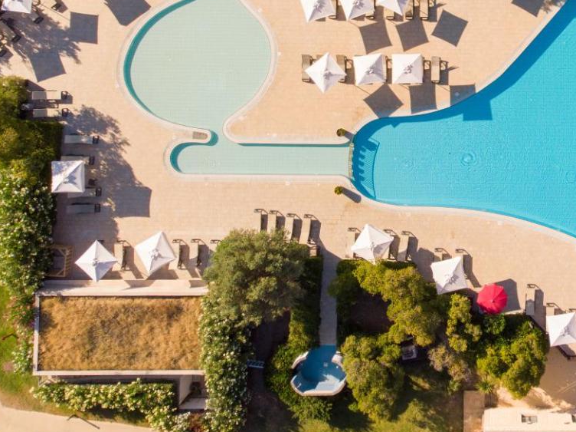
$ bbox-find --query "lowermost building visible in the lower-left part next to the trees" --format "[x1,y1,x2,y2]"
[33,281,215,374]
